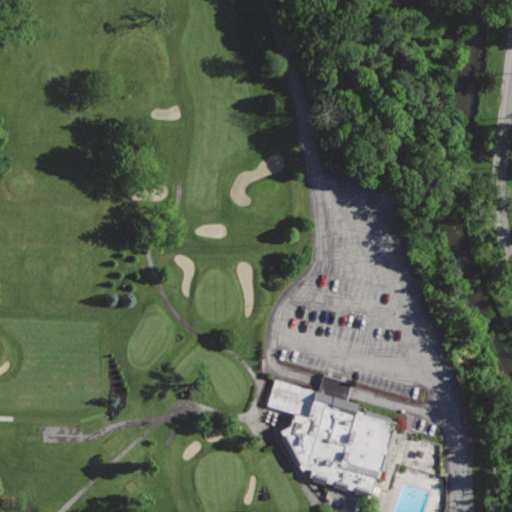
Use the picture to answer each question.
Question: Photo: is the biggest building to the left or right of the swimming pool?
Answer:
left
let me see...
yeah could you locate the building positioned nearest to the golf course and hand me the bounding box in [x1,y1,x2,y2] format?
[266,378,394,496]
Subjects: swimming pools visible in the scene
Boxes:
[394,483,430,512]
